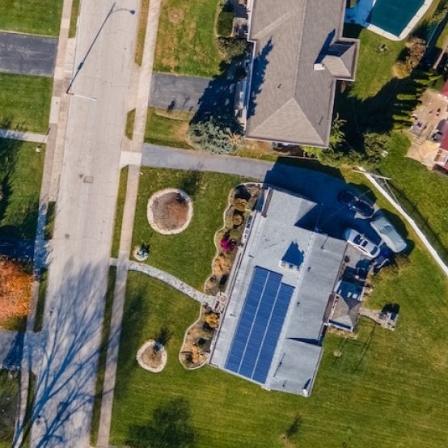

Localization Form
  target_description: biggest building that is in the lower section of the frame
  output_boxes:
[207,187,349,398]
